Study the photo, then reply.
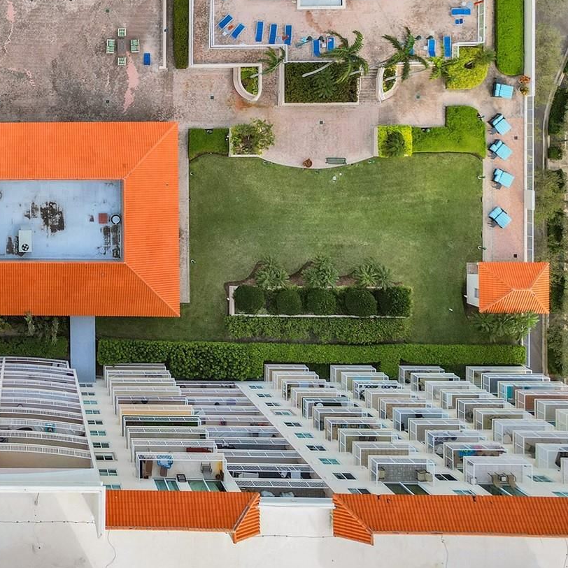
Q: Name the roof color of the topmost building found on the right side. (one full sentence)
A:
The color of the roof on the topmost building found on the right side is orange.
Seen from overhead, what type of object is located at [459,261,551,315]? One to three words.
building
